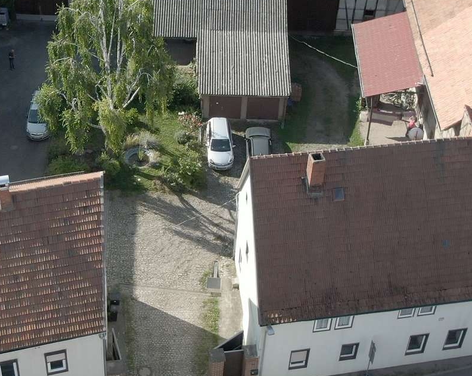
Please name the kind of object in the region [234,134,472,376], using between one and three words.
house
